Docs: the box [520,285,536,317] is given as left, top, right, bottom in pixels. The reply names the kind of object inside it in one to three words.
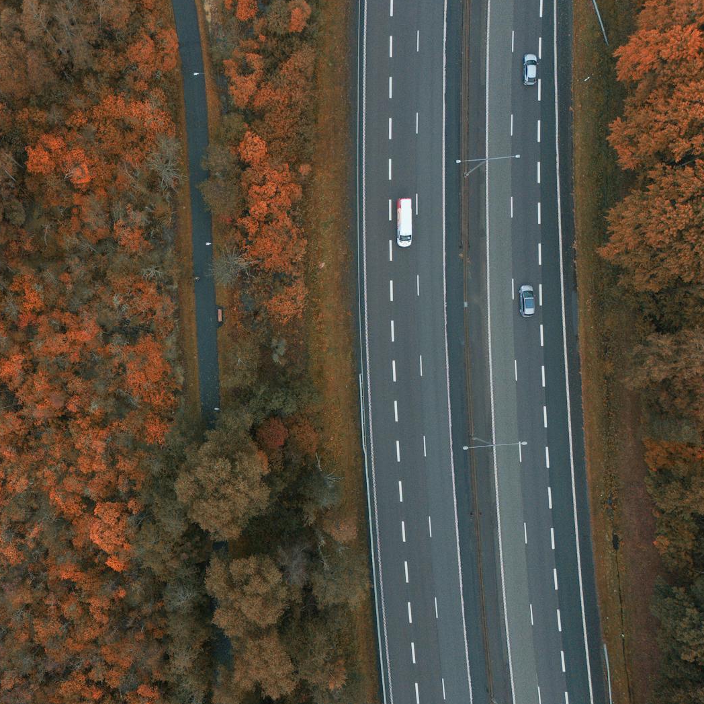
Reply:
car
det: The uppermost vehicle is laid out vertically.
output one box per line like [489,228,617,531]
[523,53,539,85]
